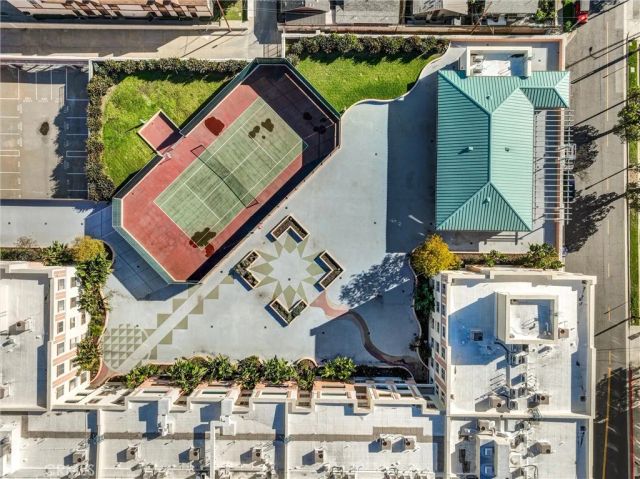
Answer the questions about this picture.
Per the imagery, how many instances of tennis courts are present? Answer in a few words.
1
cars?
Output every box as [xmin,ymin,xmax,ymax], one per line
[577,0,594,23]
[565,169,580,199]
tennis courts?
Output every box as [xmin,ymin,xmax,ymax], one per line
[122,64,342,285]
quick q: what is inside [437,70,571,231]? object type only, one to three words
building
